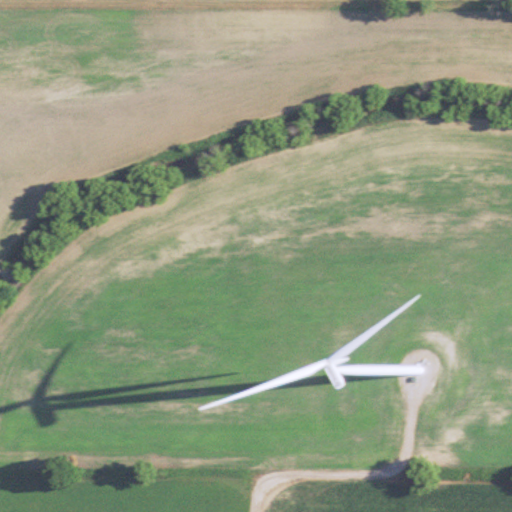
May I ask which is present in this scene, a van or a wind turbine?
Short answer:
wind turbine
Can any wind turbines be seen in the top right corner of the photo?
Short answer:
No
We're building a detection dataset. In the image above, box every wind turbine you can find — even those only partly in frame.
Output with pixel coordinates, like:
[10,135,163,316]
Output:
[200,294,428,409]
